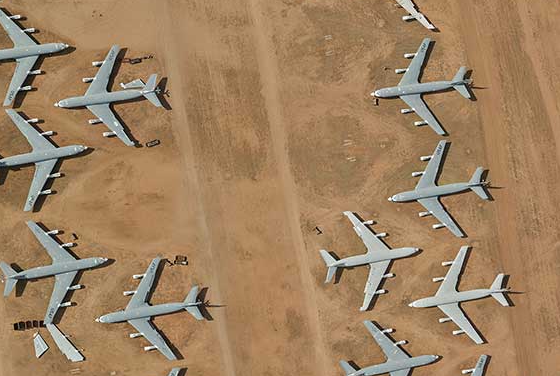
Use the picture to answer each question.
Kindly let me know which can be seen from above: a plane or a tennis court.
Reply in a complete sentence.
This aerial view contains a plane.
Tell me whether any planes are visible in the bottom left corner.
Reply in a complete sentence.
Yes, a plane appears in the bottom left corner.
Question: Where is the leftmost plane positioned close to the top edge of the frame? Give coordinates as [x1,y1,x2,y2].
[0,9,69,106]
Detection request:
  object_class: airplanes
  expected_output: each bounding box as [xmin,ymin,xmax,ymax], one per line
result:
[392,0,433,29]
[389,140,491,237]
[0,221,107,324]
[54,45,164,146]
[0,108,88,211]
[320,212,419,311]
[409,246,513,344]
[0,9,69,106]
[371,38,472,135]
[96,258,210,360]
[340,320,438,376]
